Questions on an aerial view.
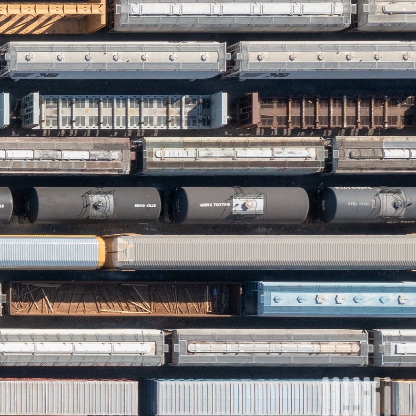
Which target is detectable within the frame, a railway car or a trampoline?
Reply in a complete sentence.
It is a railway car that can be seen here.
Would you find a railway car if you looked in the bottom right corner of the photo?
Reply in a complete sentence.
Yes, the scene does show a railway car in the bottom right corner of the photo.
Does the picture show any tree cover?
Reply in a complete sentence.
No, the scene doesn't show any tree cover.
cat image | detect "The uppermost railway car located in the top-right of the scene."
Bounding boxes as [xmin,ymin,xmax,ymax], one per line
[227,90,416,129]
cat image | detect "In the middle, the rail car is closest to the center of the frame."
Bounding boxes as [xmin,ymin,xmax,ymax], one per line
[163,186,313,225]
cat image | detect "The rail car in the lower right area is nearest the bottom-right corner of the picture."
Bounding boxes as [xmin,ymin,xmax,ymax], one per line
[369,376,416,416]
